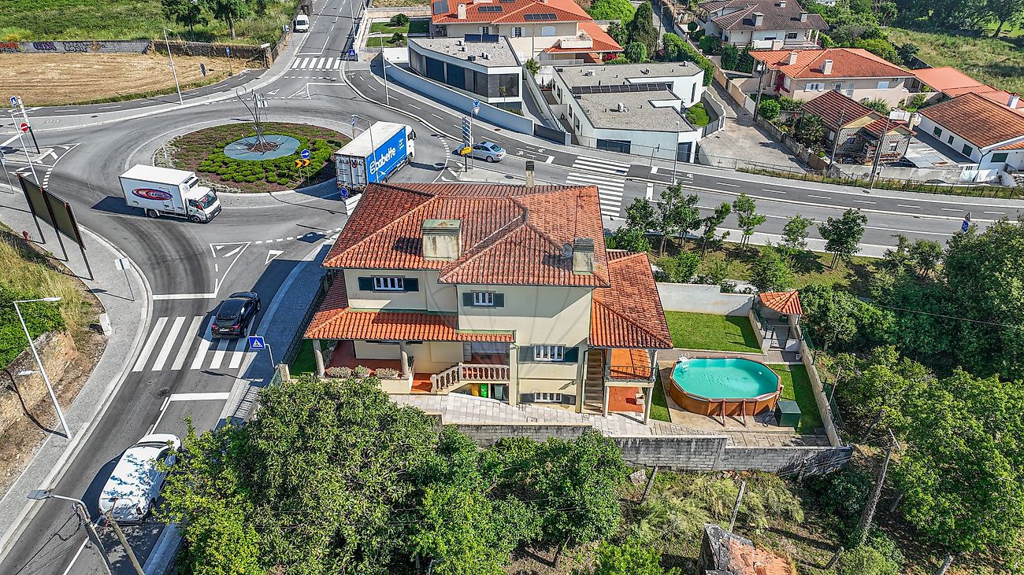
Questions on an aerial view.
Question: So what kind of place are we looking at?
residential area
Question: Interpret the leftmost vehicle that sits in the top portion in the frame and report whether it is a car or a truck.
truck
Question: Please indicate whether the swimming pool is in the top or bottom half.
bottom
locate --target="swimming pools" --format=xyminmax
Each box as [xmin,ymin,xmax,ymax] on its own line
[668,356,782,423]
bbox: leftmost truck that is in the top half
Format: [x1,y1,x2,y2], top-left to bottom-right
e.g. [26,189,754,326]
[117,159,220,222]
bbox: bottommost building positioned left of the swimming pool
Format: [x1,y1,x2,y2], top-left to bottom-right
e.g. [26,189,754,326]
[303,162,671,418]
